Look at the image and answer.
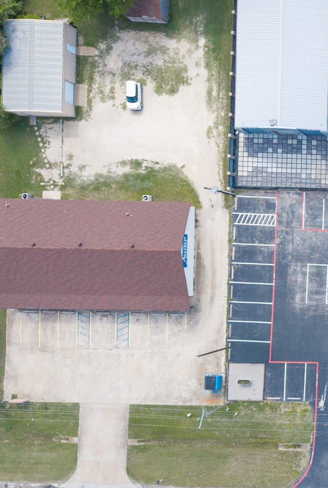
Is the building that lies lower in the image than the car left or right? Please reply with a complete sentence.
The building that lies lower in the image than the car is on the left side of the image.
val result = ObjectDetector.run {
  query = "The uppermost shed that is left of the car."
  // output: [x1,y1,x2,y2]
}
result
[1,18,76,116]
